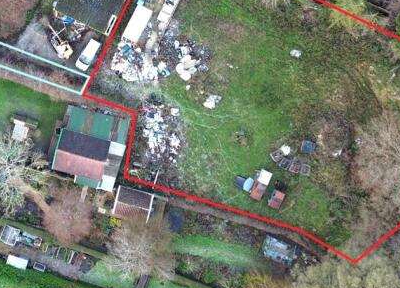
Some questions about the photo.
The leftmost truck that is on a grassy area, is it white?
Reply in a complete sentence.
Yes, white is the color of the leftmost truck that is on a grassy area.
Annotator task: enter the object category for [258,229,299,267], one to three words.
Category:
greenhouse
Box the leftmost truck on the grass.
[118,0,154,46]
